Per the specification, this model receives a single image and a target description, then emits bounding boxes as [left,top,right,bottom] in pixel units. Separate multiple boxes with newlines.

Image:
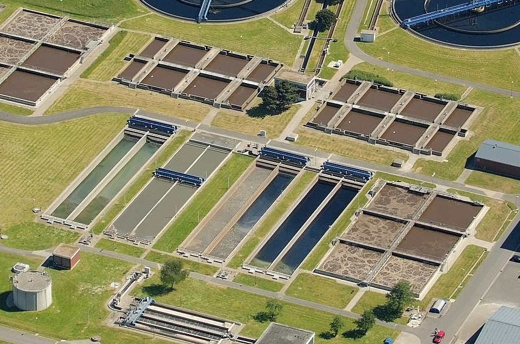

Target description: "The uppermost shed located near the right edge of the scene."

[473,139,520,177]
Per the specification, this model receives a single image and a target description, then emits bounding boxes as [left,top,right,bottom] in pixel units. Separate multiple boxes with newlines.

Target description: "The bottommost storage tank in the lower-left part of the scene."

[8,269,51,311]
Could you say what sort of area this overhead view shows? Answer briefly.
industrial area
